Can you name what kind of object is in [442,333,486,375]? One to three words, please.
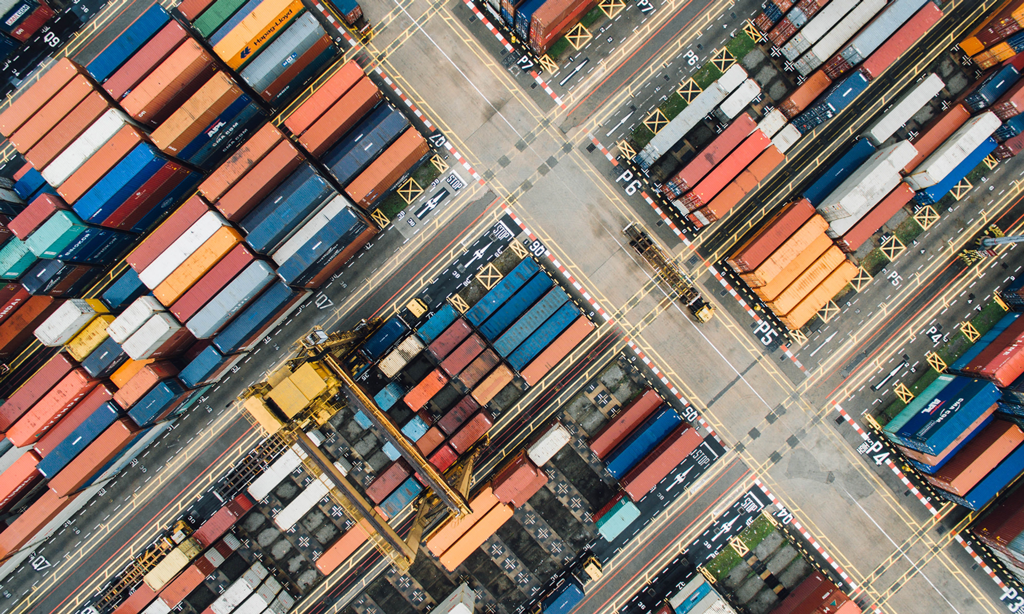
shipping container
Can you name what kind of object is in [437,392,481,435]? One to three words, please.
shipping container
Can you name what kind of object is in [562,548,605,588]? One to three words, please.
truck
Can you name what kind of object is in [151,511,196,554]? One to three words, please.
truck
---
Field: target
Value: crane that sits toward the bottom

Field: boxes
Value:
[233,307,485,580]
